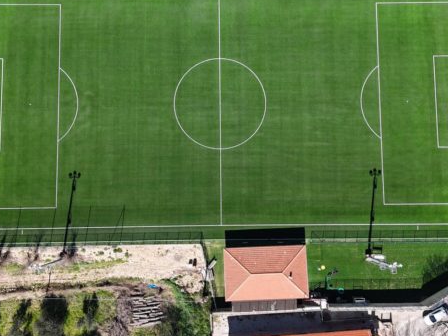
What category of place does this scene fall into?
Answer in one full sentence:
What you see here is a sports ground.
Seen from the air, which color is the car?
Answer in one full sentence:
The color of the car is white.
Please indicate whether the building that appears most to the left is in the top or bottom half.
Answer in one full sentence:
Seen from above, the building that appears most to the left lies in the bottom half of the view.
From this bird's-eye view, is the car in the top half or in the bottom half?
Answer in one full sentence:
You can find the car in the bottom half.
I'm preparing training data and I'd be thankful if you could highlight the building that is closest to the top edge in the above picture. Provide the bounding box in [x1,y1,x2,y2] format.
[224,245,309,302]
